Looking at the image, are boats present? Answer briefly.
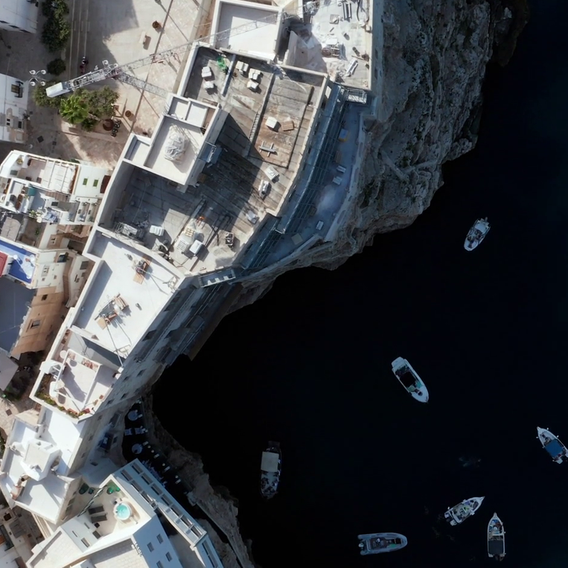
Yes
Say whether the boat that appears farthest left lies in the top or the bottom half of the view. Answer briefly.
bottom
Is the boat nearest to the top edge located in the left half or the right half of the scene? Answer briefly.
right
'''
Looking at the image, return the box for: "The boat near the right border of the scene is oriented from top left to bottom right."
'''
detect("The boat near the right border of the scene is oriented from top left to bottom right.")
[537,427,568,466]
